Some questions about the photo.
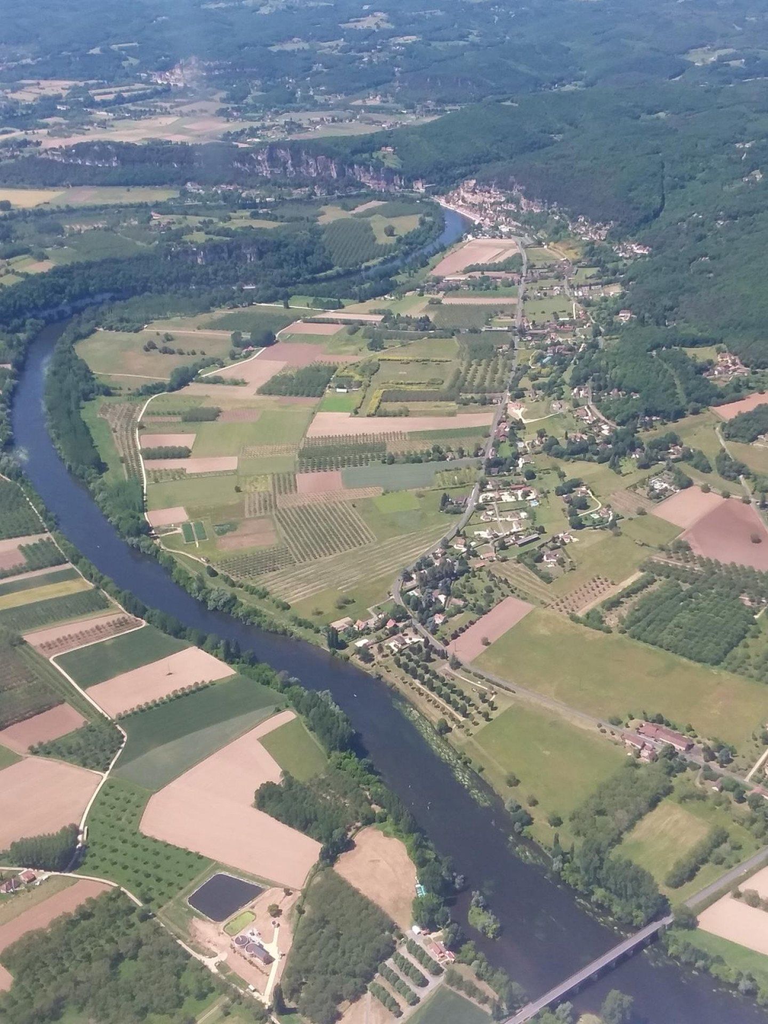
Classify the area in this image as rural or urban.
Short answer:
rural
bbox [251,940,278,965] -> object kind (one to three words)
building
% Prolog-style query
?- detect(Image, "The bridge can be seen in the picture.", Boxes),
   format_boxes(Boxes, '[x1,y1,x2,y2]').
[503,910,680,1024]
